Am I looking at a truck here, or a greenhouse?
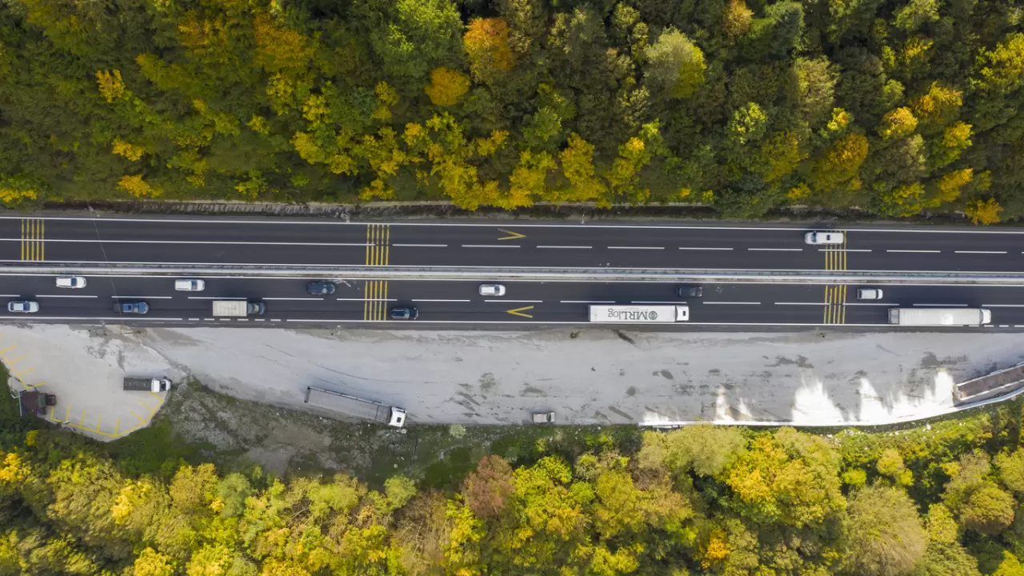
truck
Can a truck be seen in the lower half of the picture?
Yes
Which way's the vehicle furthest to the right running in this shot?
from side to side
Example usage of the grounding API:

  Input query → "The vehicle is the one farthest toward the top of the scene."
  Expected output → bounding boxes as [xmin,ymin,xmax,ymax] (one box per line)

[803,230,846,245]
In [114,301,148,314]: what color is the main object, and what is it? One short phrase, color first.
blue vehicle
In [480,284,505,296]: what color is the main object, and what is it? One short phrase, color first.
white vehicle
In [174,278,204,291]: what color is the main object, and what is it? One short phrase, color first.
white vehicle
